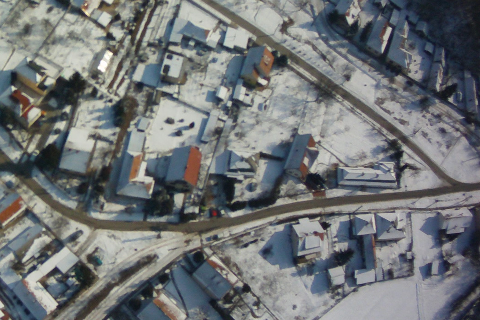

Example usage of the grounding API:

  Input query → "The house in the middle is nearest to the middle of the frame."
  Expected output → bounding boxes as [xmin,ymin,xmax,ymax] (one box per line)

[224,150,256,179]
